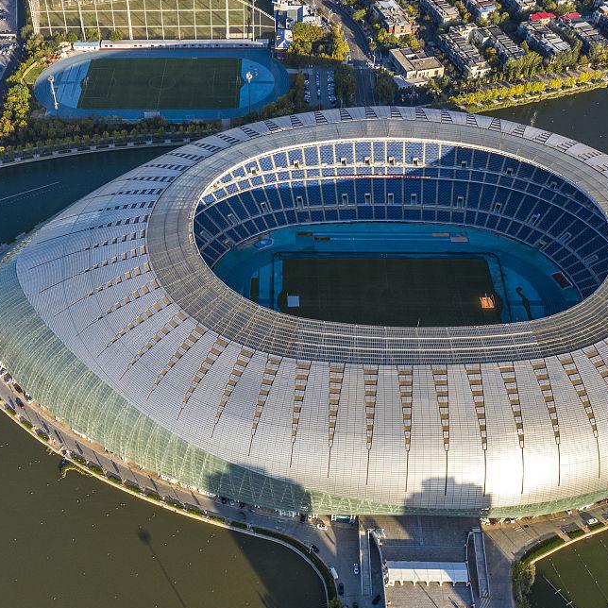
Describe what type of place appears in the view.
sports ground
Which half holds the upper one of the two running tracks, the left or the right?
left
